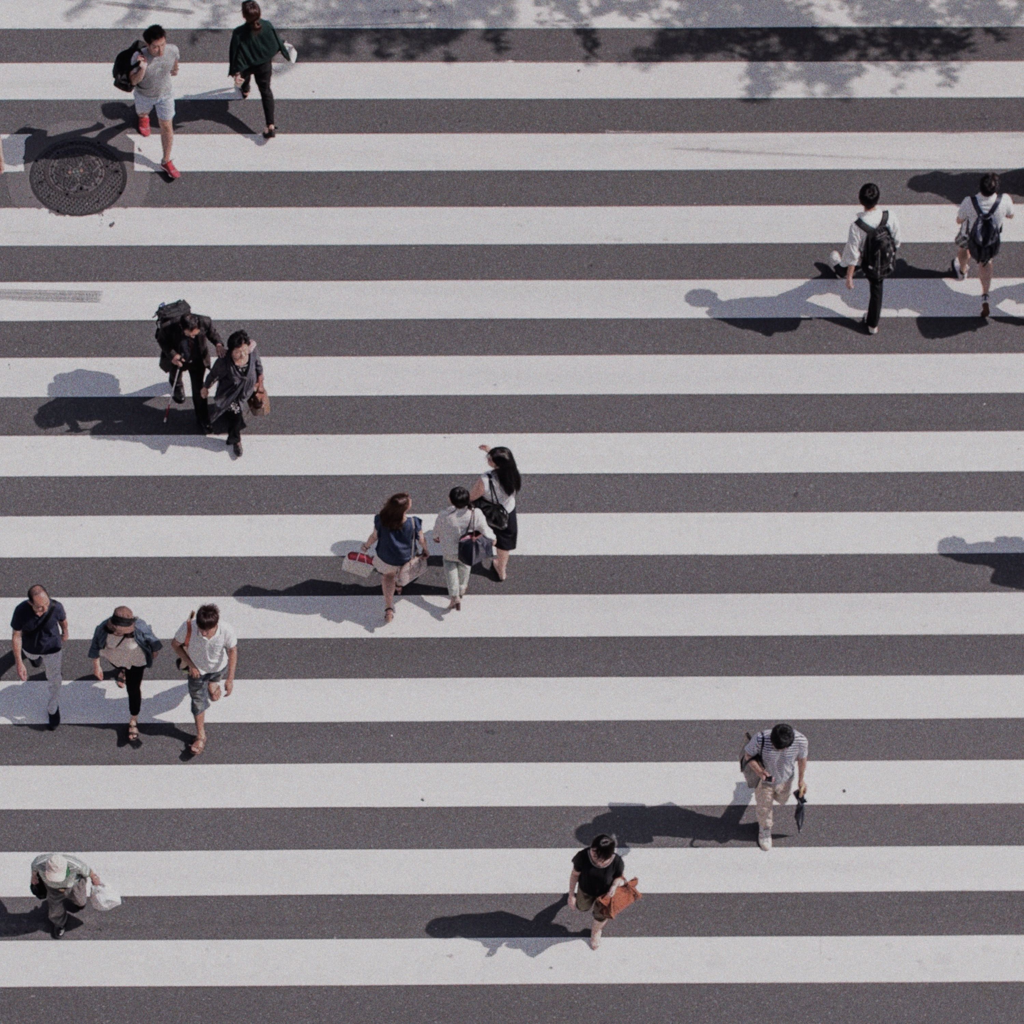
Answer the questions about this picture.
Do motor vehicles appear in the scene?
No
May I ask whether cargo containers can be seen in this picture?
No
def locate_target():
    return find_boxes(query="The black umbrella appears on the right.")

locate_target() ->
[792,790,811,832]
